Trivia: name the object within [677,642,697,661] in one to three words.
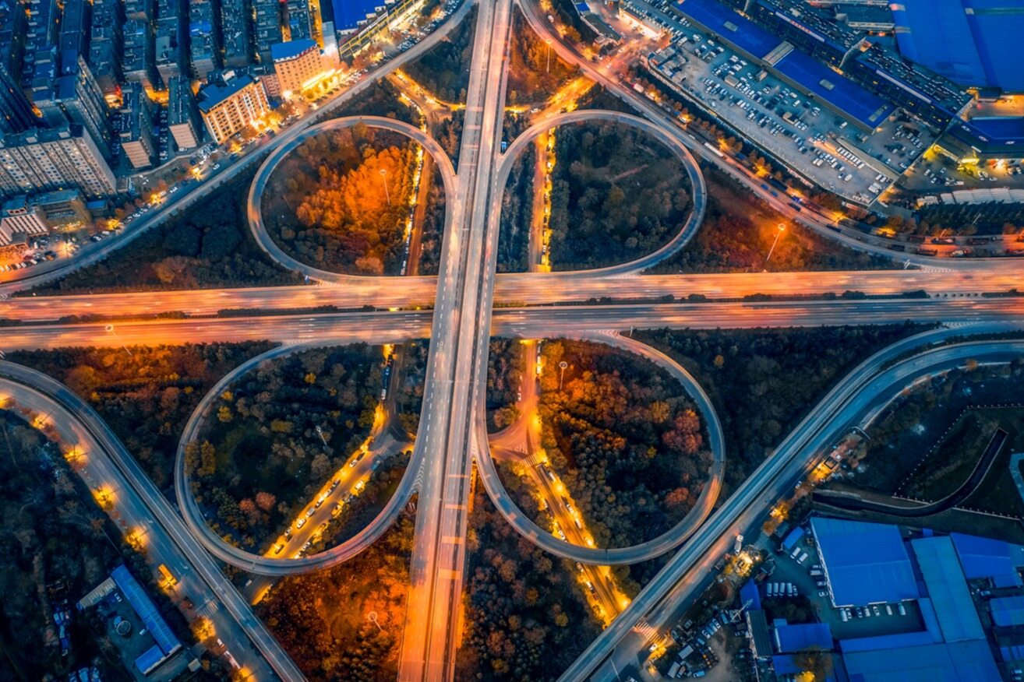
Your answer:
vehicle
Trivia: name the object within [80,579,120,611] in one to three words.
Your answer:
shed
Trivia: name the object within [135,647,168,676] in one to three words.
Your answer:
shed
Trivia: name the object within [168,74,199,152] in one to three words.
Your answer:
building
